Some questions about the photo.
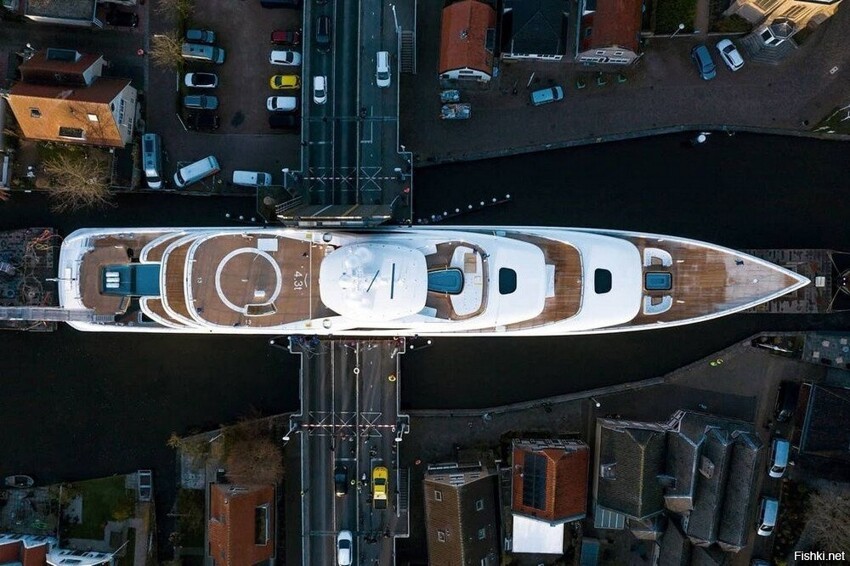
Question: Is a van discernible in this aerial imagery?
Yes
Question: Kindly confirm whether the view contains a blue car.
Yes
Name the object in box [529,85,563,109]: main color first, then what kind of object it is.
blue vehicle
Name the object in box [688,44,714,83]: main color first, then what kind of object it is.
blue car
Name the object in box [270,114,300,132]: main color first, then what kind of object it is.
black vehicle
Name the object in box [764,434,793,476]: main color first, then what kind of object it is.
blue van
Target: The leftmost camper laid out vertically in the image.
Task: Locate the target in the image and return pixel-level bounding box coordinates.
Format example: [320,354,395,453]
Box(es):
[141,132,168,191]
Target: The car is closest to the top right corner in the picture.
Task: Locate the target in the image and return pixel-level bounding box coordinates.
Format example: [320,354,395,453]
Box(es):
[714,40,745,75]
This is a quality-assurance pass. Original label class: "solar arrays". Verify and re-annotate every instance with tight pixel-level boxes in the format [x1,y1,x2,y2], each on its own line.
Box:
[520,457,546,520]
